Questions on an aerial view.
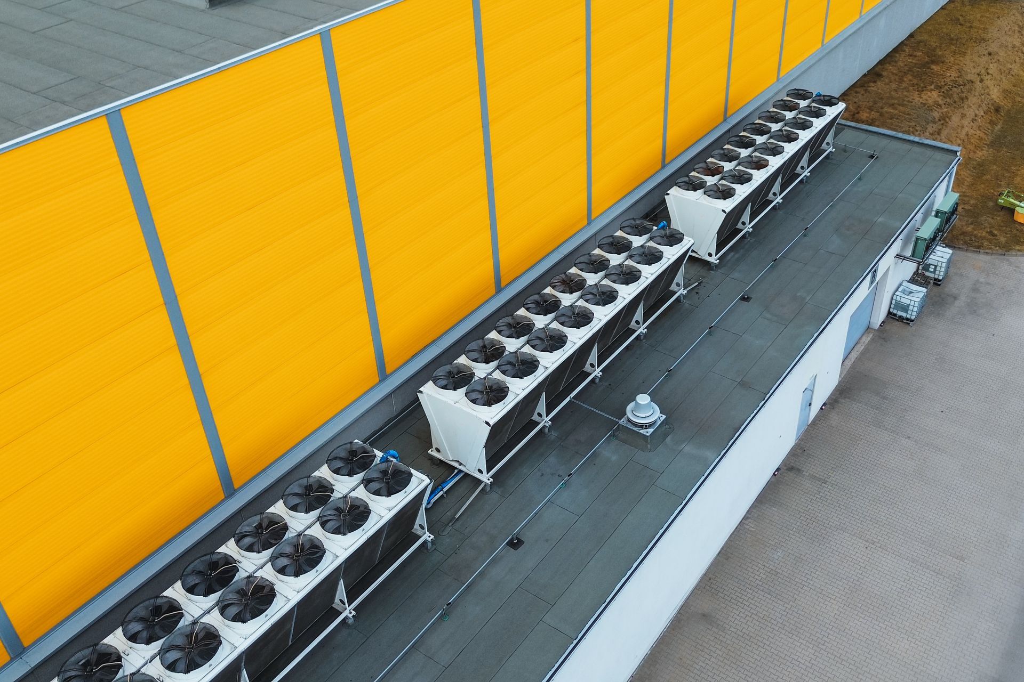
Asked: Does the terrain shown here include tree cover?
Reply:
No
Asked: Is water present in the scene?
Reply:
No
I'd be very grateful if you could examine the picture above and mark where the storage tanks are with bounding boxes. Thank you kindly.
[917,246,955,285]
[889,282,929,327]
